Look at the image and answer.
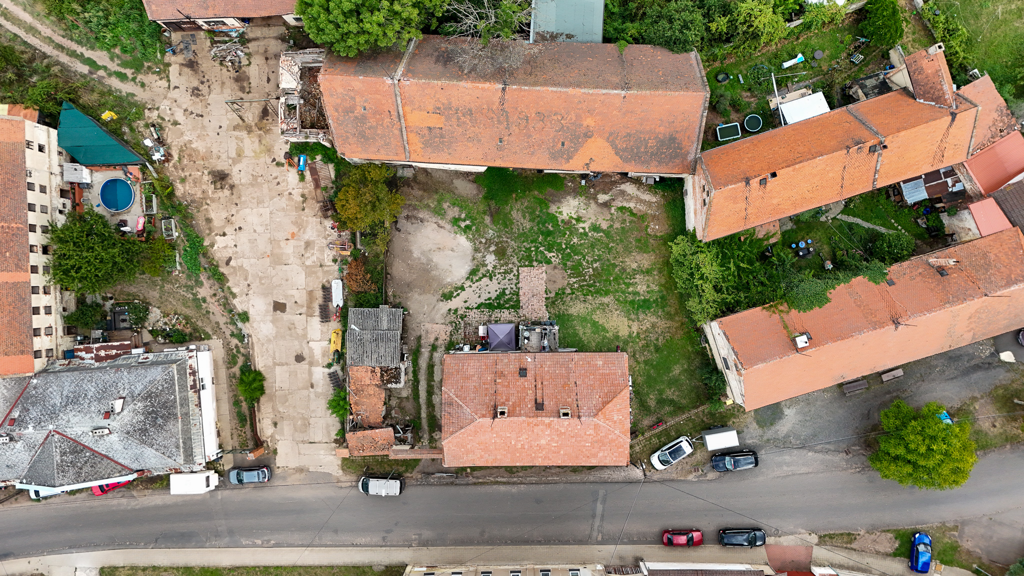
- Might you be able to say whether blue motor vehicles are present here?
Yes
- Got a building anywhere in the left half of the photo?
Yes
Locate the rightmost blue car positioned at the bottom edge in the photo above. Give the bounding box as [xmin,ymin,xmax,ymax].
[911,532,937,576]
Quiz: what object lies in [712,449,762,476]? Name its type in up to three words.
car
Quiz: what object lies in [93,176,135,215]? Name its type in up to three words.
swimming pool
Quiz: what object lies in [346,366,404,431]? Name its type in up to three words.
shed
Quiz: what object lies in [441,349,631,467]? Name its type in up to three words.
house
